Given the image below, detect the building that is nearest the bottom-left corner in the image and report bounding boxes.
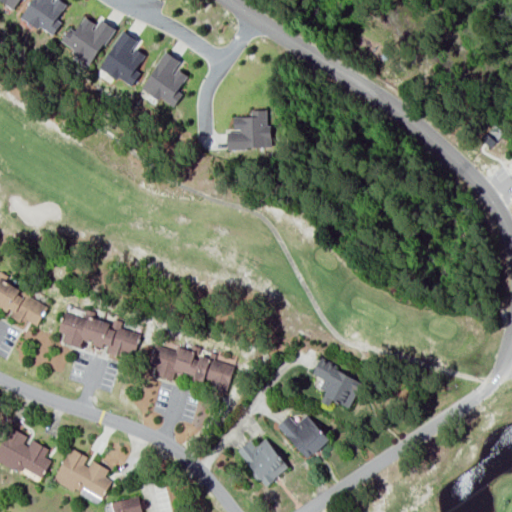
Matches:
[0,431,52,482]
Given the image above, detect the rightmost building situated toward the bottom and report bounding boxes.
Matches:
[312,362,362,410]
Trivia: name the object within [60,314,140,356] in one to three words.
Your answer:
building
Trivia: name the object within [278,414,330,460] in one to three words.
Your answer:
house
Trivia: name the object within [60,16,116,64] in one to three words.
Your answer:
house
